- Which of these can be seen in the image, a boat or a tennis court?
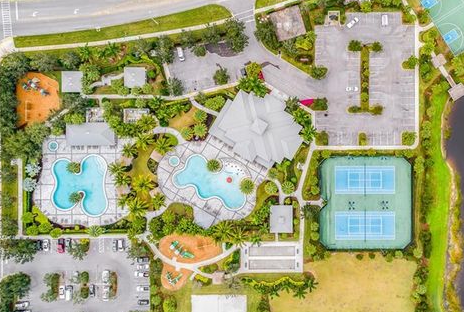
tennis court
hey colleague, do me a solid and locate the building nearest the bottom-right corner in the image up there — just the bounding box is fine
[270,205,293,233]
